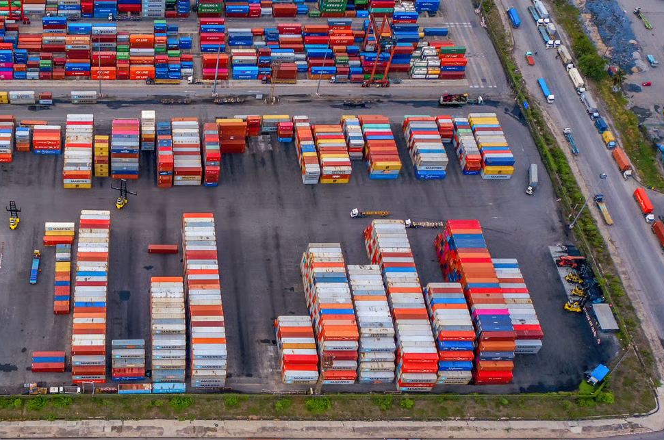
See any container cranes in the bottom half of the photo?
No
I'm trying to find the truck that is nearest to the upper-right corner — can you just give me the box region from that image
[631,6,653,28]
